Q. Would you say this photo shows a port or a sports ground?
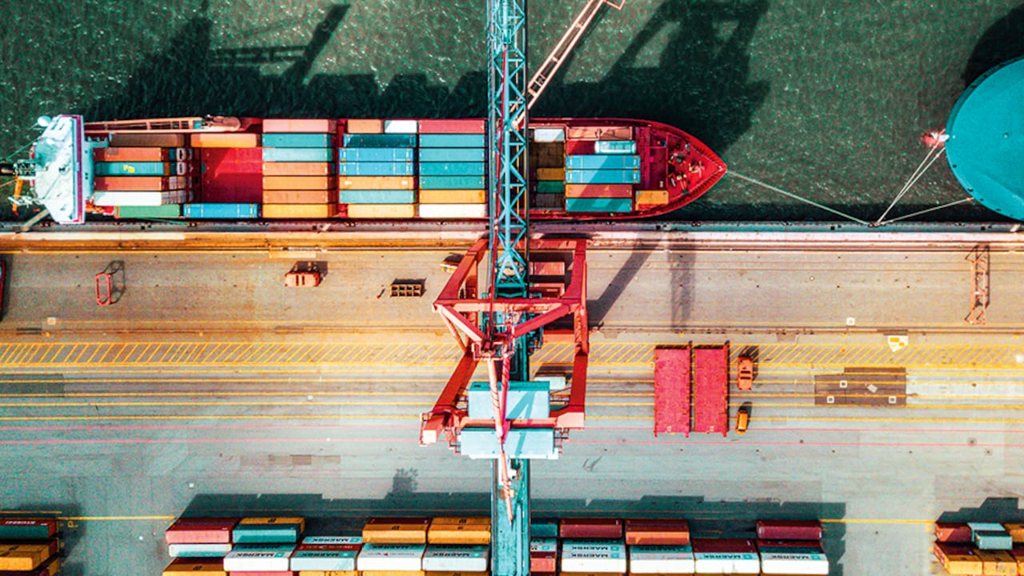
port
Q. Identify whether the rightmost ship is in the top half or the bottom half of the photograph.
top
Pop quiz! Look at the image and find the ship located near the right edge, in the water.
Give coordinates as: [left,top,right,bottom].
[927,58,1024,218]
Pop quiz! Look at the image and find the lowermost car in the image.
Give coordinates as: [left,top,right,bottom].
[735,405,749,432]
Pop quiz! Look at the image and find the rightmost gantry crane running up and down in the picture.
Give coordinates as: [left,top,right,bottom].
[418,0,600,576]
